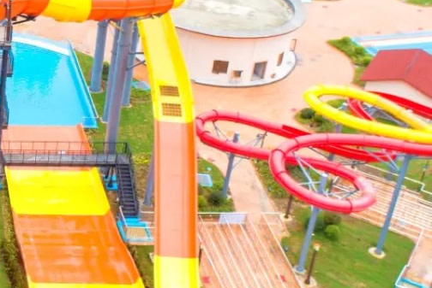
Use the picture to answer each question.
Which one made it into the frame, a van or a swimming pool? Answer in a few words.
swimming pool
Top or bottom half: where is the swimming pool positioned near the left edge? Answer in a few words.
top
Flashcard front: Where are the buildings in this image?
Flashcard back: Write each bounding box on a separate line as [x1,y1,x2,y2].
[180,0,313,89]
[367,39,432,119]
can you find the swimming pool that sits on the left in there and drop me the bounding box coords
[2,40,95,130]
